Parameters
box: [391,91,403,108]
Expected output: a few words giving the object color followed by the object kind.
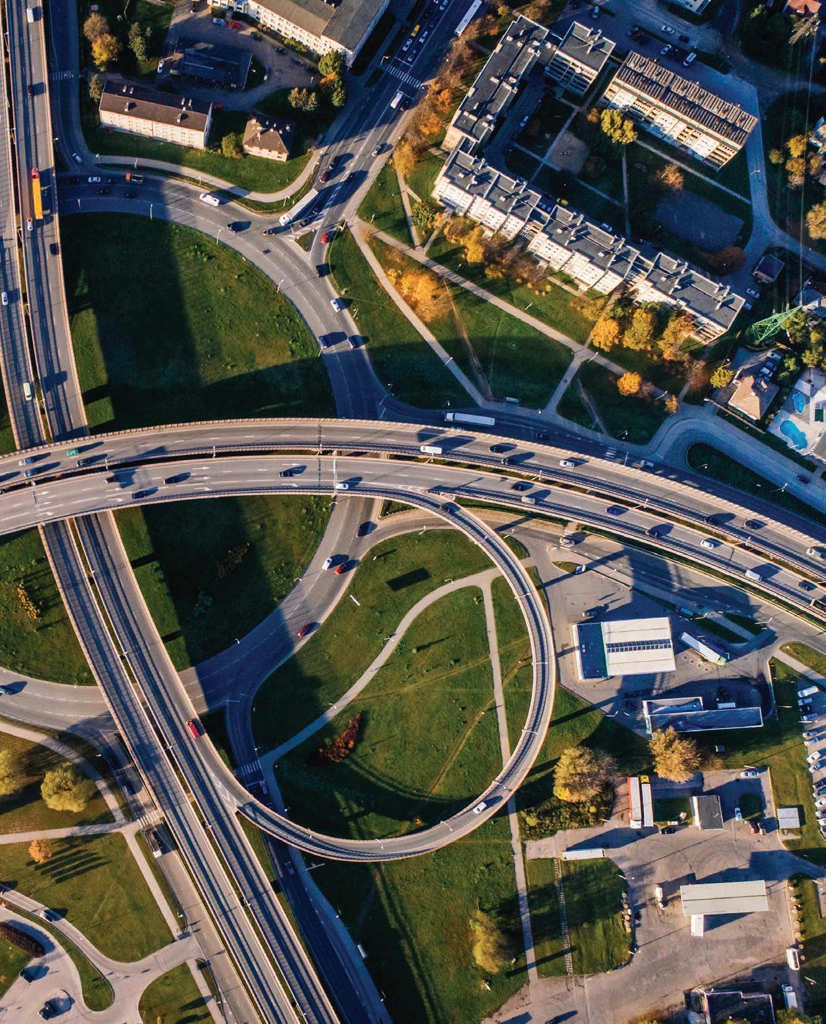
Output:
white vehicle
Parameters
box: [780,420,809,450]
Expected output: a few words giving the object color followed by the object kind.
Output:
blue swimming pool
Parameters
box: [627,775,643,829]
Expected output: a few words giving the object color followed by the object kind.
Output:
white vehicle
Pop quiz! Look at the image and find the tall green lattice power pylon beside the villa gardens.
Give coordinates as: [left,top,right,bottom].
[754,305,806,340]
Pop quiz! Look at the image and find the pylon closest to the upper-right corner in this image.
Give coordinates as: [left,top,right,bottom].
[779,17,819,63]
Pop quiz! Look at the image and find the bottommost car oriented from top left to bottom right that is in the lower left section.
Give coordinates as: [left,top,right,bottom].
[19,969,34,985]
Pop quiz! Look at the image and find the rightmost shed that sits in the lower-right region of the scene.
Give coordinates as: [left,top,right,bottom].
[775,807,801,829]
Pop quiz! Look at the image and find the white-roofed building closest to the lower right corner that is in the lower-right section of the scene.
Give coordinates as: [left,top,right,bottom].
[687,914,704,937]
